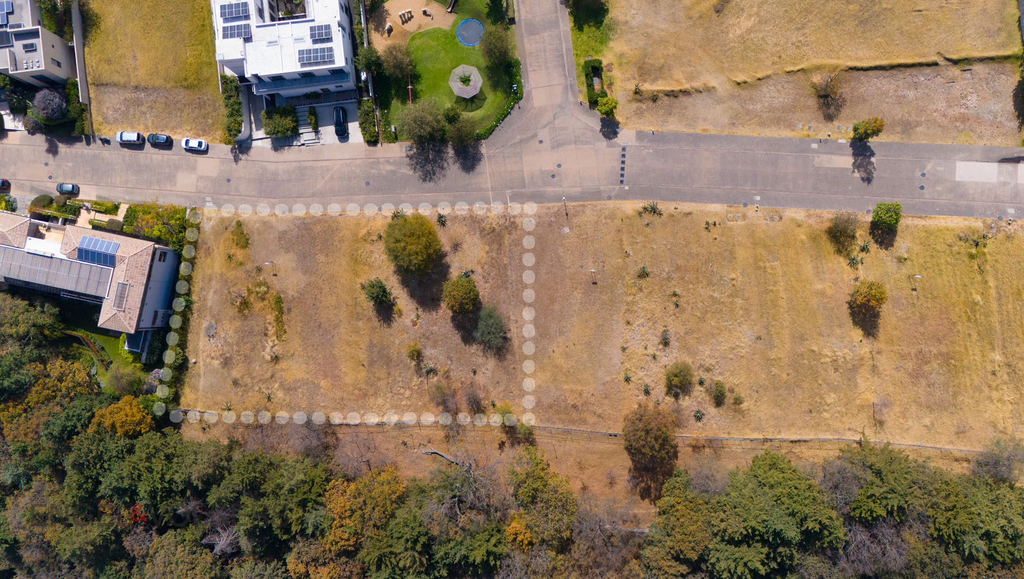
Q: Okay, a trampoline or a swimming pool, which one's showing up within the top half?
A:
trampoline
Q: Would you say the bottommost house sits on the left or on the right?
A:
left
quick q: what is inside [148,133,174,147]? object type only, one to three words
car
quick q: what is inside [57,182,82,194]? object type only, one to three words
vehicle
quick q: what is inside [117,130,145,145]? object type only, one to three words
car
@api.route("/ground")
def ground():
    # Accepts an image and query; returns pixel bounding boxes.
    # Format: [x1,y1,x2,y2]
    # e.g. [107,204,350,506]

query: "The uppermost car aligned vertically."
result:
[334,107,348,136]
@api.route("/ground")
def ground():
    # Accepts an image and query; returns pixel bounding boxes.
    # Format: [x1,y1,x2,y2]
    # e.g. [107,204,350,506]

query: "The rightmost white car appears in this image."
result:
[181,137,209,151]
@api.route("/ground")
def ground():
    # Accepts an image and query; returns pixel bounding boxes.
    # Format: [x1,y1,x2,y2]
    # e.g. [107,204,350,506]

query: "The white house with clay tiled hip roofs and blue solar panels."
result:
[0,212,174,362]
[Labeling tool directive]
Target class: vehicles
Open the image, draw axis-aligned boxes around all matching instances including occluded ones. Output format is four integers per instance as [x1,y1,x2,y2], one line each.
[334,107,348,136]
[181,137,209,151]
[57,182,82,194]
[148,133,174,147]
[117,130,145,145]
[0,179,13,190]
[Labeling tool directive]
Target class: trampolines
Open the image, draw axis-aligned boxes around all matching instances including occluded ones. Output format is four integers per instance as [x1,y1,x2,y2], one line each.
[456,18,484,46]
